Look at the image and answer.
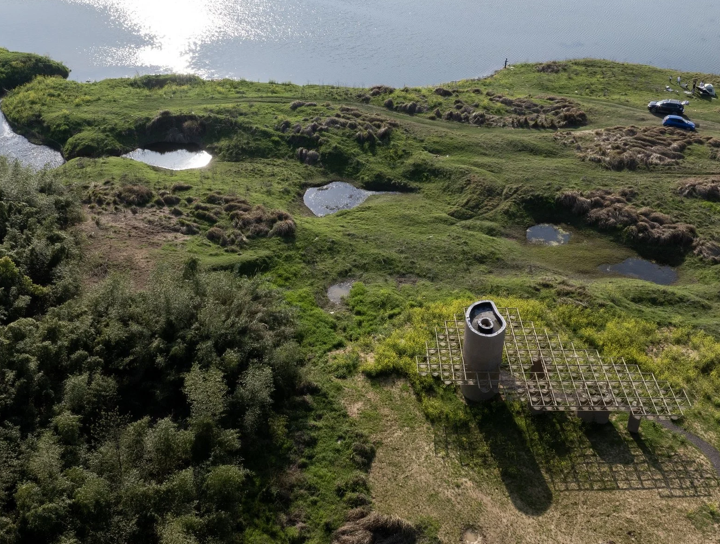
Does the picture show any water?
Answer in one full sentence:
Yes, some water is visible.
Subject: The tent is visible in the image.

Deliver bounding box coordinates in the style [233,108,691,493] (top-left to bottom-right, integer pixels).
[689,82,718,97]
